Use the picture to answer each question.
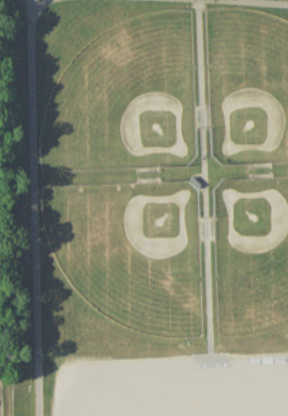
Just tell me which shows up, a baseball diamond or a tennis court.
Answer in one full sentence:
There is a baseball diamond in the scene.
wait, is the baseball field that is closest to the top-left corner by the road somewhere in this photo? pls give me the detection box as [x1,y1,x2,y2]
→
[40,8,196,171]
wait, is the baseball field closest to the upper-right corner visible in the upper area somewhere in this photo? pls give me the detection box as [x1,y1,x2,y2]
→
[206,6,288,164]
